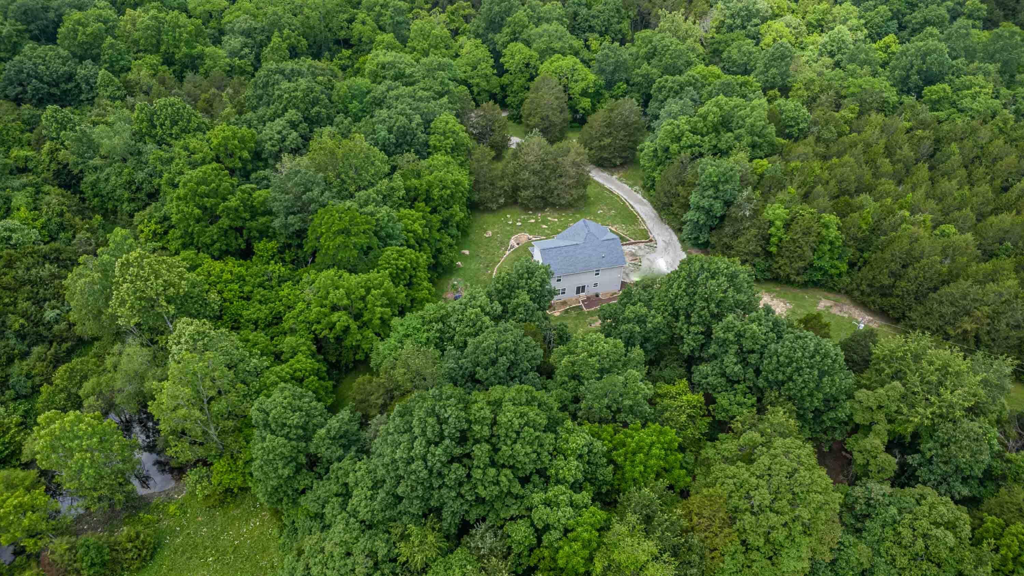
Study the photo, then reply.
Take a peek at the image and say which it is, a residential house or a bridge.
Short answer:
residential house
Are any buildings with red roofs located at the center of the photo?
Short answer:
No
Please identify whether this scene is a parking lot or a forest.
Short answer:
forest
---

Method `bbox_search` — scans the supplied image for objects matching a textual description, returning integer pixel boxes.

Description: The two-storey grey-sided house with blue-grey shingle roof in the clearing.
[528,216,626,301]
